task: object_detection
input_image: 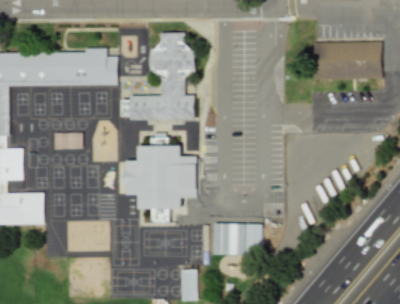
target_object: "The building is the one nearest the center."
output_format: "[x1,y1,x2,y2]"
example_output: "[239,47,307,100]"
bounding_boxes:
[125,146,198,208]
